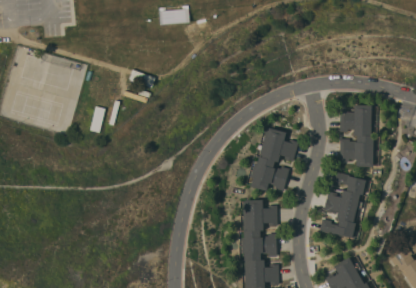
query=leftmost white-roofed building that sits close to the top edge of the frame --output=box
[160,6,190,26]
